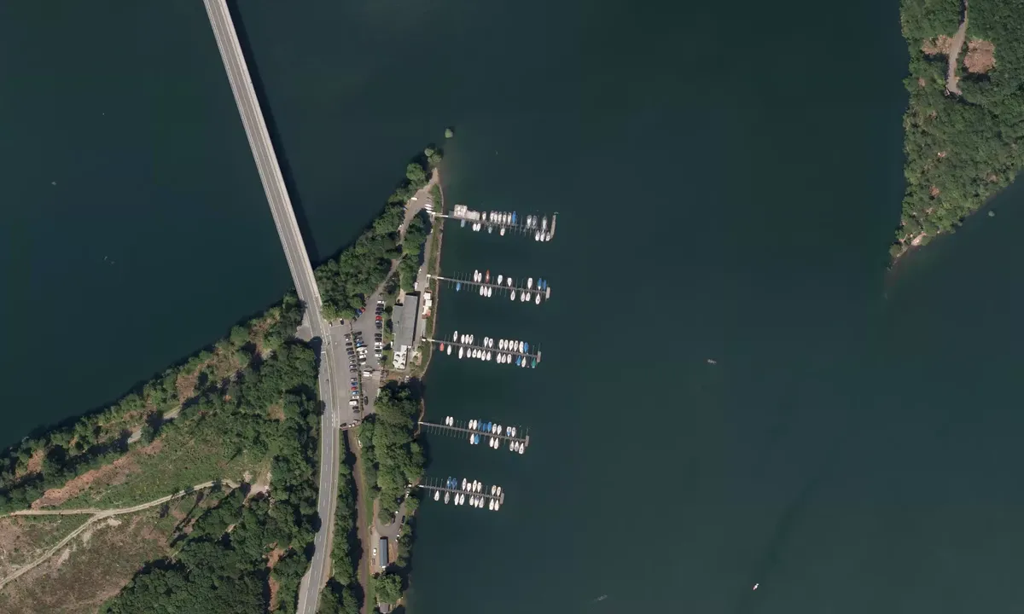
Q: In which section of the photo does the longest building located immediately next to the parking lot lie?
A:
center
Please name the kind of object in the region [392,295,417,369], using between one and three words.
building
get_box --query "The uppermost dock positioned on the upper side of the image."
[434,214,556,238]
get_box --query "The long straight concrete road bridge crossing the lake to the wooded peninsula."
[203,0,320,306]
